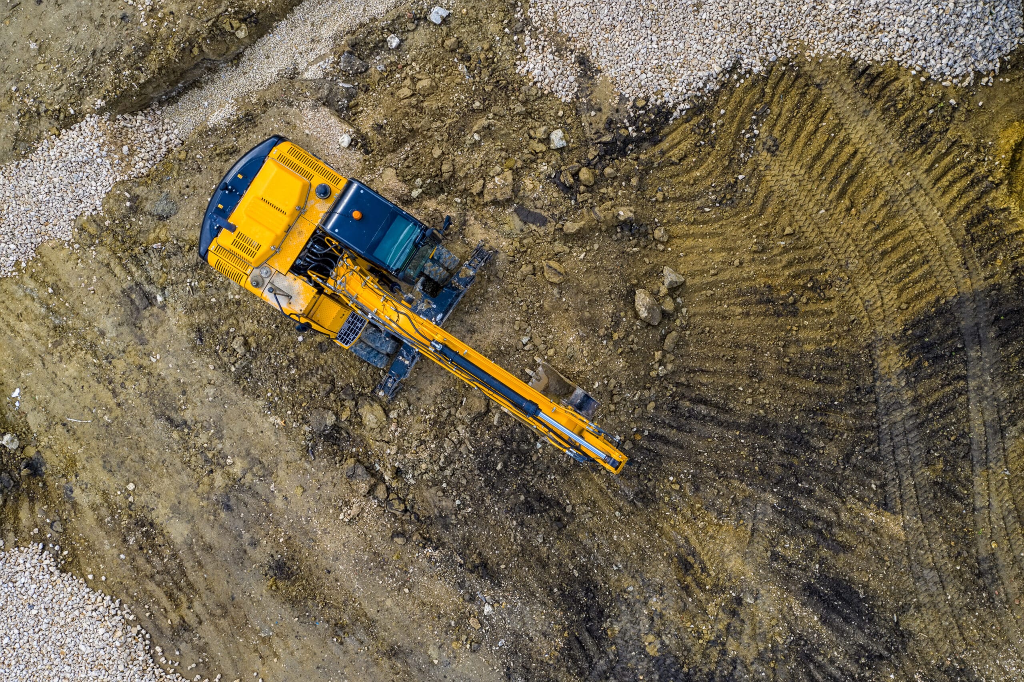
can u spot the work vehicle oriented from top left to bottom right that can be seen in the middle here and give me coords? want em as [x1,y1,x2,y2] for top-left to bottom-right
[199,135,630,476]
